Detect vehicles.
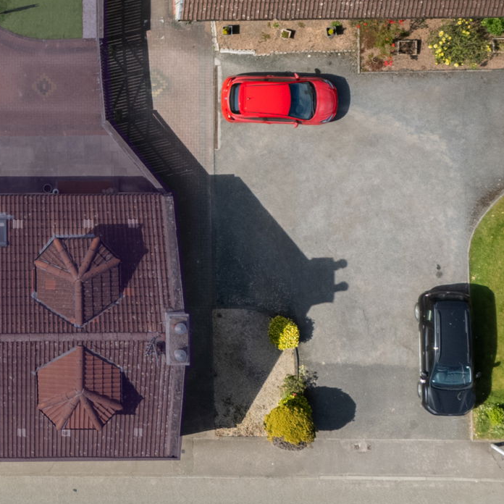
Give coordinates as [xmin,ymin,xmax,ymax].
[419,290,486,419]
[224,68,342,128]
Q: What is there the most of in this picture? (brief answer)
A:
paved ground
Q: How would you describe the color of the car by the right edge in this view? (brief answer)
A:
black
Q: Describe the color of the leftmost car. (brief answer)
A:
red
